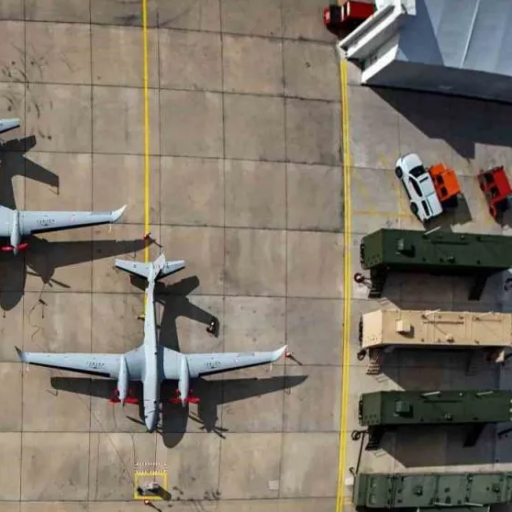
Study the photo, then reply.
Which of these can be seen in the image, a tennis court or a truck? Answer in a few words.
truck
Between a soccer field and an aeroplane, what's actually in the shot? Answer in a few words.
aeroplane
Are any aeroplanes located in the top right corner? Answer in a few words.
No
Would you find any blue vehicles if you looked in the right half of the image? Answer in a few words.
No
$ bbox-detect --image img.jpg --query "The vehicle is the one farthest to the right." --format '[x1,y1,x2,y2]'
[473,169,512,224]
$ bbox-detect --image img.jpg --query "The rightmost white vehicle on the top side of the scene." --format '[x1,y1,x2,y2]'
[396,153,447,220]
